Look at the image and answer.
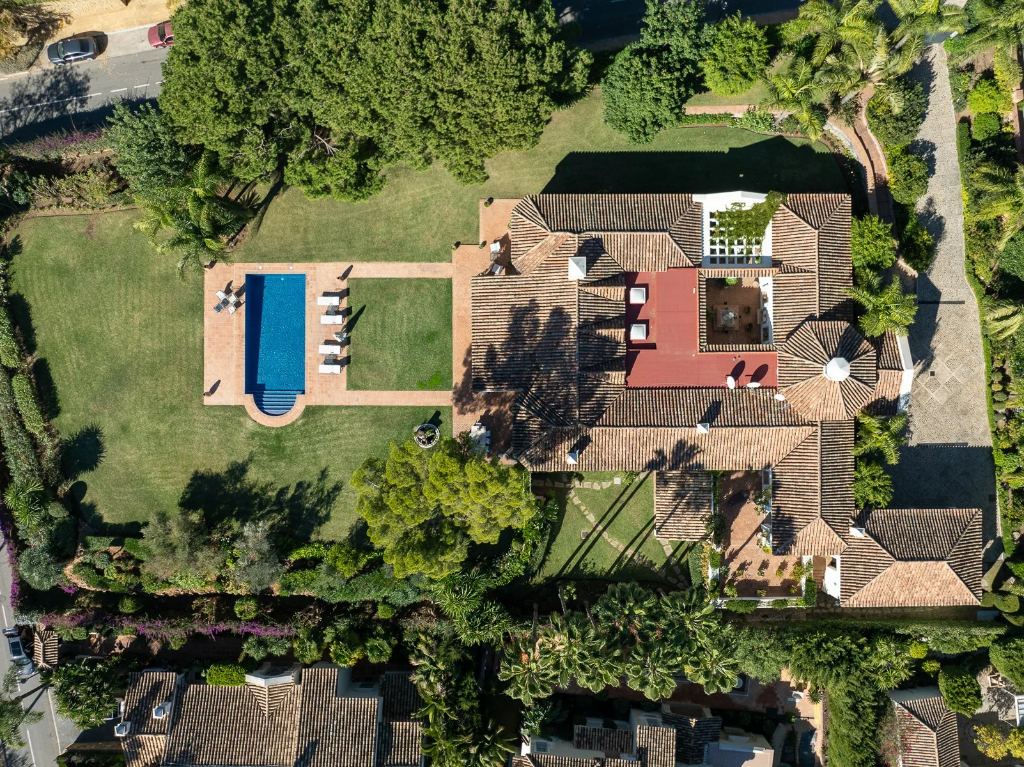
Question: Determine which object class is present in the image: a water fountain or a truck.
water fountain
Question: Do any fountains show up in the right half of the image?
Yes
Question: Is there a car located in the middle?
No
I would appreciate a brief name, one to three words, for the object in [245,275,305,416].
swimming pool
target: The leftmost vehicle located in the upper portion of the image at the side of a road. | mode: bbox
[42,33,96,64]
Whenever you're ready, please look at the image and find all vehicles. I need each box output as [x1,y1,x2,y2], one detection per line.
[142,16,194,46]
[0,628,35,683]
[42,33,96,64]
